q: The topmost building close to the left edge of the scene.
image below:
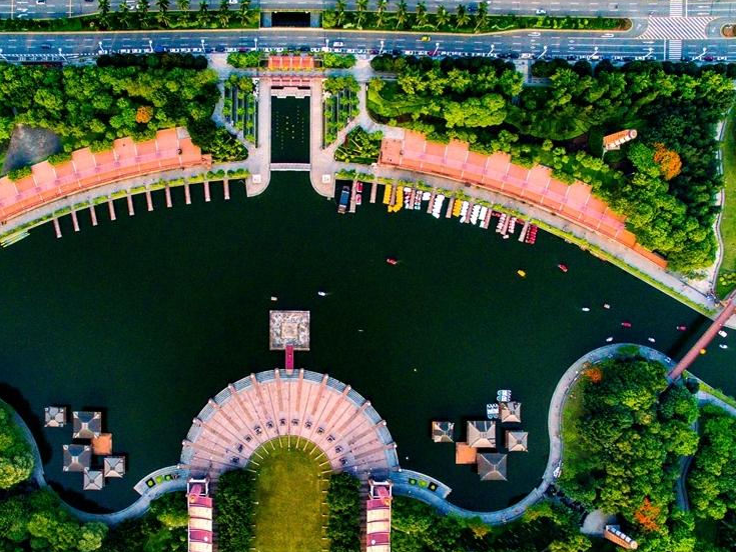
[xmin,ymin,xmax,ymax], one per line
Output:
[0,129,205,222]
